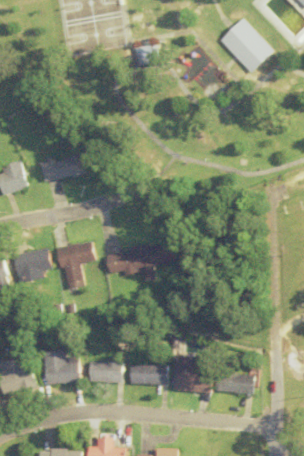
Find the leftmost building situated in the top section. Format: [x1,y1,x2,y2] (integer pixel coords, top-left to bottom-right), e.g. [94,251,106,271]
[0,164,30,194]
